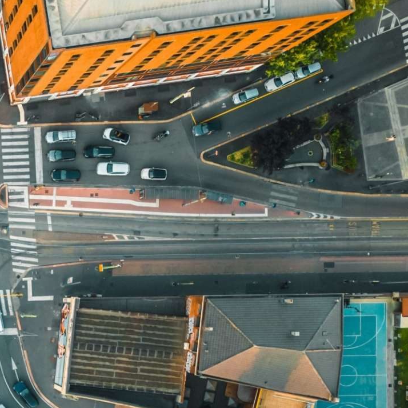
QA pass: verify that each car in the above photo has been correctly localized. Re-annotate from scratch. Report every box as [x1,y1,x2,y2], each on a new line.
[262,74,297,92]
[192,121,223,137]
[294,61,323,80]
[44,129,77,145]
[14,377,37,408]
[139,167,167,181]
[229,88,259,105]
[82,145,116,160]
[95,161,130,176]
[49,167,80,182]
[46,148,76,162]
[101,127,132,146]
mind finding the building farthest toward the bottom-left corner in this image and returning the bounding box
[51,294,188,408]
